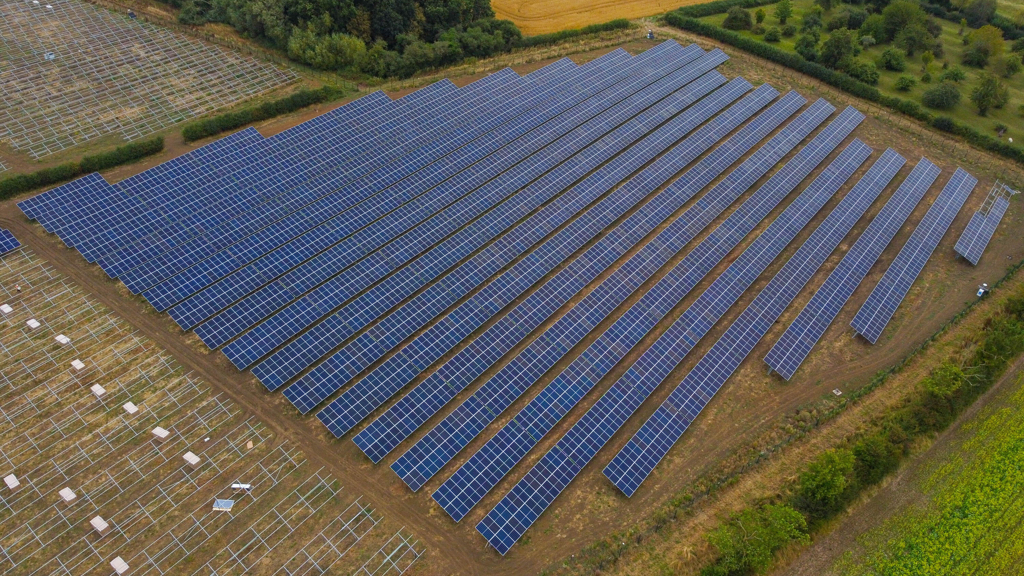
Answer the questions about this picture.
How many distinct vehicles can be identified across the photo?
none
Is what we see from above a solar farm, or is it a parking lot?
solar farm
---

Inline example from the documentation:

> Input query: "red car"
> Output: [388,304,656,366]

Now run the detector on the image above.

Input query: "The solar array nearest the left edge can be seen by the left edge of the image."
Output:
[0,229,22,255]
